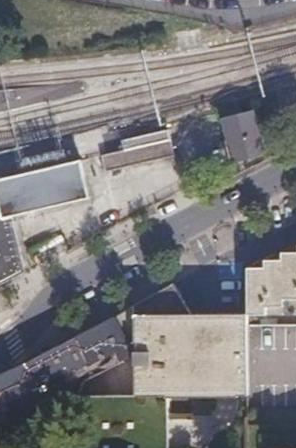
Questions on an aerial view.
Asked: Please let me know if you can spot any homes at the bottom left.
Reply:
Yes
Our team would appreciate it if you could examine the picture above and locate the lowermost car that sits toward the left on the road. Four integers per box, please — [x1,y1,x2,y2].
[78,286,99,302]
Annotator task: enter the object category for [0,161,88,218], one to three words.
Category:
building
